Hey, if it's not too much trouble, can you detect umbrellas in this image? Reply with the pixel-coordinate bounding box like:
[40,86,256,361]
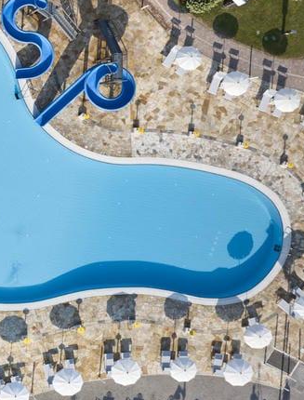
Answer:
[51,365,83,397]
[216,68,248,99]
[108,357,139,388]
[172,43,204,73]
[267,84,300,114]
[239,316,270,349]
[222,354,254,386]
[166,353,198,384]
[0,379,29,400]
